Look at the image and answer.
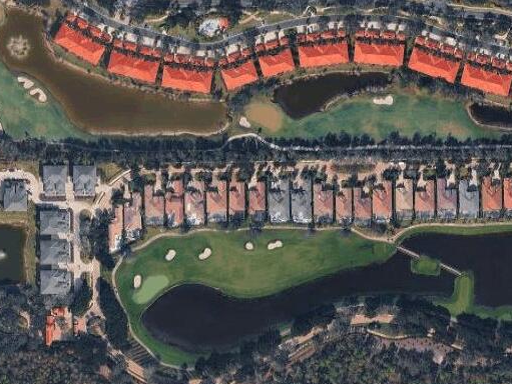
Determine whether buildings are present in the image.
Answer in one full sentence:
Yes, this view includes a building.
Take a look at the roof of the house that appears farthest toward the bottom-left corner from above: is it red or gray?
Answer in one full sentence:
The color of the roof of the house that appears farthest toward the bottom-left corner is red.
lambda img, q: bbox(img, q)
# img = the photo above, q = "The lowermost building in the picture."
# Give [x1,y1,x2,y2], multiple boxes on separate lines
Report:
[45,308,72,347]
